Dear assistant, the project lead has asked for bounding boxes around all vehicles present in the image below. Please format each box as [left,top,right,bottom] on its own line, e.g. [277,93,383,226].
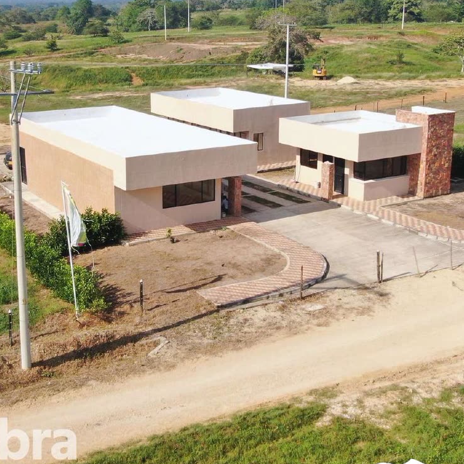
[312,55,328,81]
[1,144,12,164]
